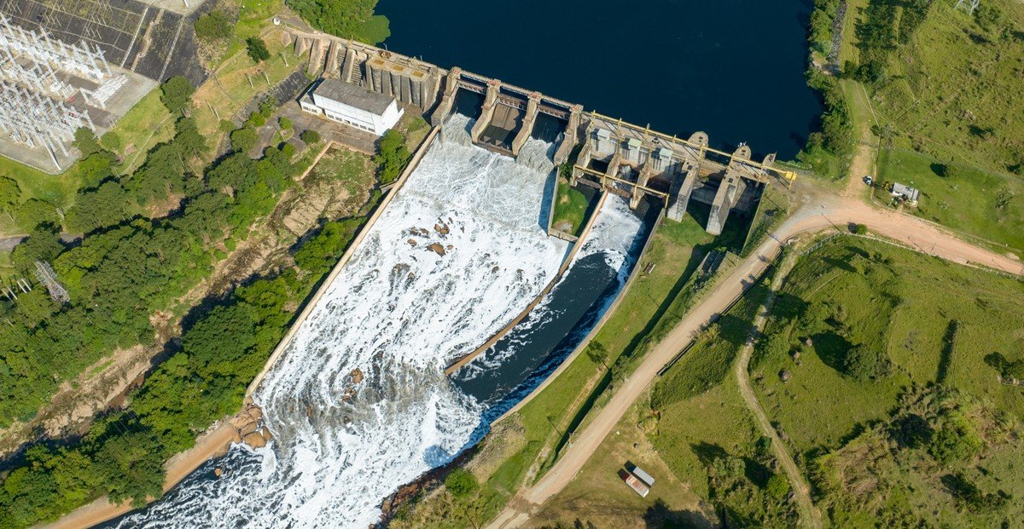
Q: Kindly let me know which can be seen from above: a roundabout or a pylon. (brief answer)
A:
pylon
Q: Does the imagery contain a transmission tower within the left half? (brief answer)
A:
Yes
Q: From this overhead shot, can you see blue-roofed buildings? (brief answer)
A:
No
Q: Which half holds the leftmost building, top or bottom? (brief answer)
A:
top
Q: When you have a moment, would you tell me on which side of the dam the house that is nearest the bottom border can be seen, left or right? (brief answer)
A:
to the right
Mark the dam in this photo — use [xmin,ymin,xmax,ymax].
[279,25,780,232]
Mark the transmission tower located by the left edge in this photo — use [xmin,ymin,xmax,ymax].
[29,257,69,307]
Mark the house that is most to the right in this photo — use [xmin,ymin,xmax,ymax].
[893,182,925,209]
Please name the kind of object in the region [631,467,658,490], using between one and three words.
truck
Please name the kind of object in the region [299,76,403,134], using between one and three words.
building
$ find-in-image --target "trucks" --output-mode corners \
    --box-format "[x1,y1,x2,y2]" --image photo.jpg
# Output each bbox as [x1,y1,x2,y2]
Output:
[624,475,652,500]
[631,467,658,490]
